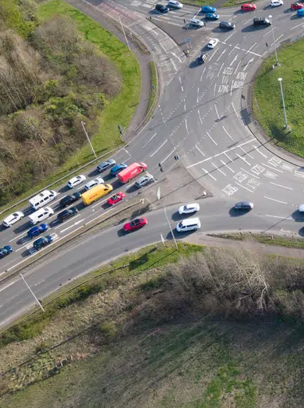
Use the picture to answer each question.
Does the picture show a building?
No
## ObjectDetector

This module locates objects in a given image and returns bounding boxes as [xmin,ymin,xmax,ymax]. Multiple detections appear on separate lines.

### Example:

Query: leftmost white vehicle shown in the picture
[2,211,26,228]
